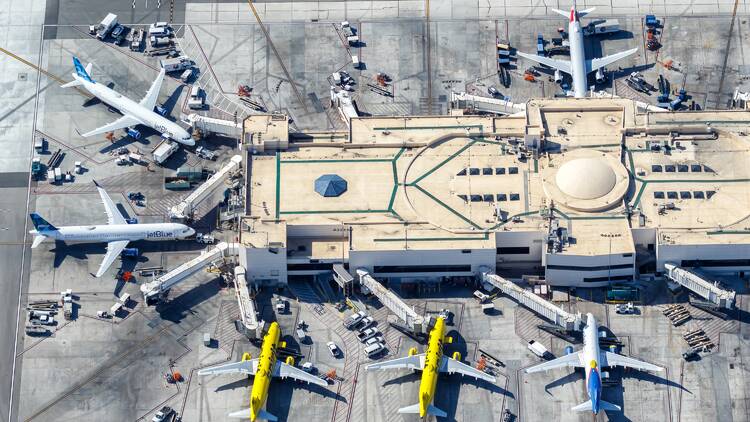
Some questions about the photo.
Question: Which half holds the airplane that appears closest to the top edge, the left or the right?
right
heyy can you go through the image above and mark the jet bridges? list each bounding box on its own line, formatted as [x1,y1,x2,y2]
[584,88,666,111]
[325,87,362,129]
[446,94,527,115]
[661,261,744,317]
[352,265,434,338]
[177,116,242,147]
[163,157,243,225]
[478,267,584,338]
[133,244,241,308]
[233,262,266,342]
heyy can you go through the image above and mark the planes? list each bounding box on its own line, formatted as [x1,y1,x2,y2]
[29,179,196,277]
[525,313,664,415]
[198,323,329,422]
[365,319,496,420]
[517,0,638,98]
[62,58,196,147]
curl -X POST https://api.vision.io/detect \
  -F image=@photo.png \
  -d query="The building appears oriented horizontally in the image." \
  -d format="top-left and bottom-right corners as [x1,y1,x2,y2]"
[240,97,750,289]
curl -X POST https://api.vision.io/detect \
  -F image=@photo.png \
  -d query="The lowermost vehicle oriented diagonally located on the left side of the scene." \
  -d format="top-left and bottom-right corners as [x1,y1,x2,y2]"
[152,404,172,421]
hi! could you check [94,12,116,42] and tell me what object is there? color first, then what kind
white truck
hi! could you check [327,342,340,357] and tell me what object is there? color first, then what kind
white vehicle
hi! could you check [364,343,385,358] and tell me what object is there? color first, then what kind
white vehicle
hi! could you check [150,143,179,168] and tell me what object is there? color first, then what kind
white truck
